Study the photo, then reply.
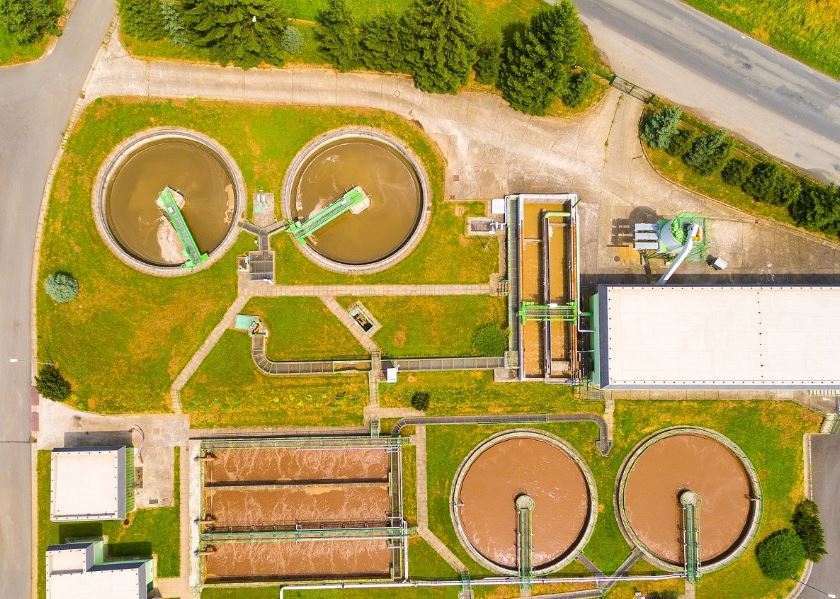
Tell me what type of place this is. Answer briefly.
industrial area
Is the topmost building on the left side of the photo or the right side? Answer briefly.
right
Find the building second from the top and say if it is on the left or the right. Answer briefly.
left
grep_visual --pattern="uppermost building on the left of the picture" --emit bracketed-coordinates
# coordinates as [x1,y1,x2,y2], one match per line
[50,446,135,521]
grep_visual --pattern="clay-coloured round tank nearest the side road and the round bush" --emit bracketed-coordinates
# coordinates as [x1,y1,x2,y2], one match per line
[611,424,760,574]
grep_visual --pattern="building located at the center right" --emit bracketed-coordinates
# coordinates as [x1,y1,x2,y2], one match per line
[590,286,840,389]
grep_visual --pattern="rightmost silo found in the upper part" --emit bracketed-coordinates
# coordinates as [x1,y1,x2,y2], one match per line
[645,208,715,267]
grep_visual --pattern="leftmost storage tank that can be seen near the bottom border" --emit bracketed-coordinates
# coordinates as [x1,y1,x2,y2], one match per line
[450,427,598,576]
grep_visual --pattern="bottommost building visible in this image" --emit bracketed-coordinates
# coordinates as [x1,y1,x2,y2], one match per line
[44,543,154,599]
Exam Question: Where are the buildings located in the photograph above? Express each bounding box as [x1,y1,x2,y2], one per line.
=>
[590,286,840,389]
[44,543,154,599]
[50,446,135,521]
